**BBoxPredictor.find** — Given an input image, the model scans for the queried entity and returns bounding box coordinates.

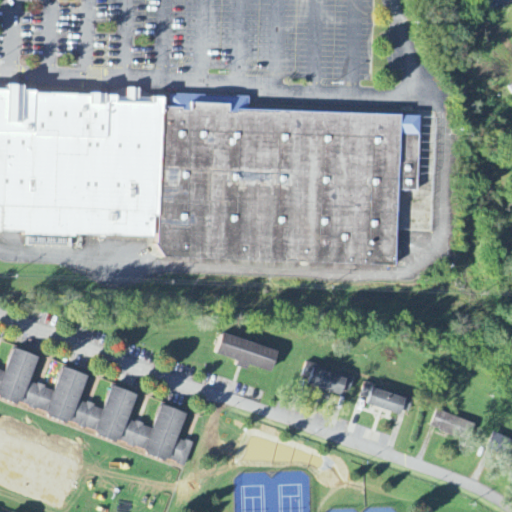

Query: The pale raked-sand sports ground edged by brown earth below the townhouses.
[0,426,86,510]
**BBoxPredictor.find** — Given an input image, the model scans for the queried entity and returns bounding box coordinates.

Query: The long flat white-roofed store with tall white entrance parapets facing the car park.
[0,82,166,248]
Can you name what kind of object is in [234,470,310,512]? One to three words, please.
tennis court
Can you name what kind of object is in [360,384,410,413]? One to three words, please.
house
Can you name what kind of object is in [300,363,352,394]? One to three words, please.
house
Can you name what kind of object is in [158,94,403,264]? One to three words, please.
building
